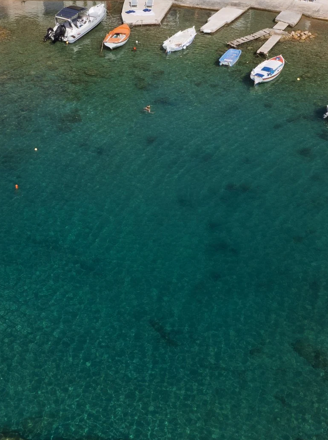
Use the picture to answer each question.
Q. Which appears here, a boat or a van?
boat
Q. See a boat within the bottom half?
No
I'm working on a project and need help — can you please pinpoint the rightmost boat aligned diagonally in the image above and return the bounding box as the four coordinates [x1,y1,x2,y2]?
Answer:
[252,49,283,90]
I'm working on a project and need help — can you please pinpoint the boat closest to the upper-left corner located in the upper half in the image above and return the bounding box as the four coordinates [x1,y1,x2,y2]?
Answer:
[47,1,107,47]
